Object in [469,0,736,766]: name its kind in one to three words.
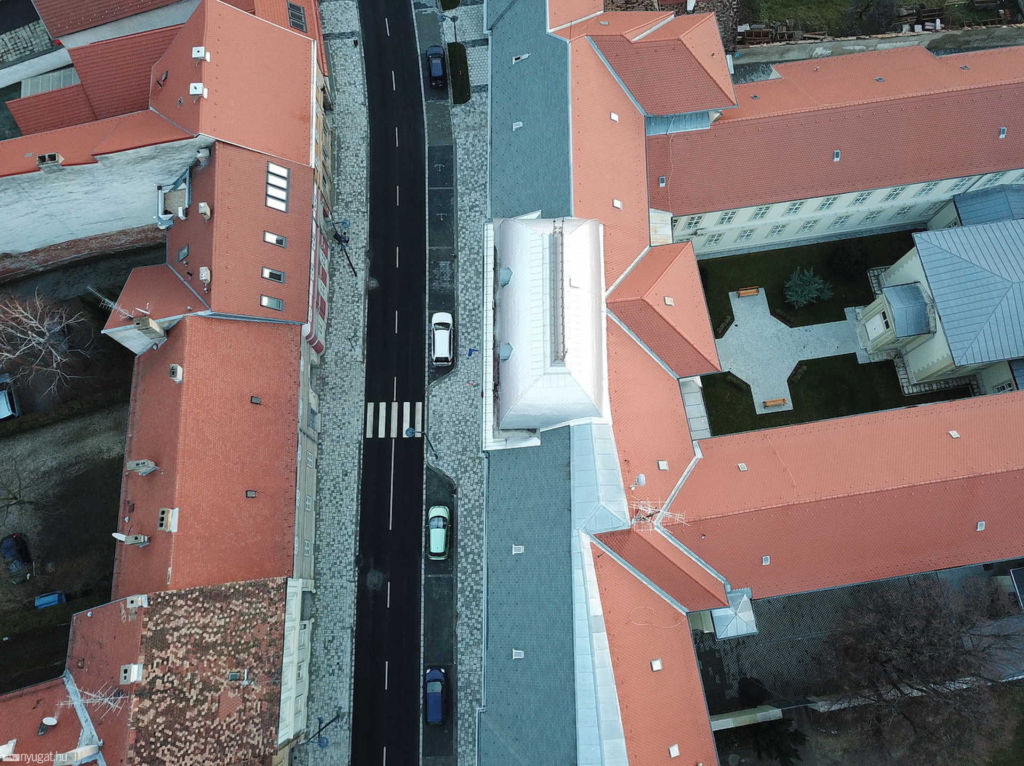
building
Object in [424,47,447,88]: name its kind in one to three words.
car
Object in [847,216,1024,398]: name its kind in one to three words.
building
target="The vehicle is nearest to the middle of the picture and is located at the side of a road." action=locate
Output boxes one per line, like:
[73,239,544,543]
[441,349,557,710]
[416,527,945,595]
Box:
[429,316,454,368]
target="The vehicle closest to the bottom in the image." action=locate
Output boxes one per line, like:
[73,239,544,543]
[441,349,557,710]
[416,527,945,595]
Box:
[421,666,449,728]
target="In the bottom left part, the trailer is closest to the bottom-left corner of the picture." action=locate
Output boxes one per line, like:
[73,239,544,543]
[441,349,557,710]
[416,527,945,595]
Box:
[28,590,75,612]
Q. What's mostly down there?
buildings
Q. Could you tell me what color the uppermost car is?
blue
